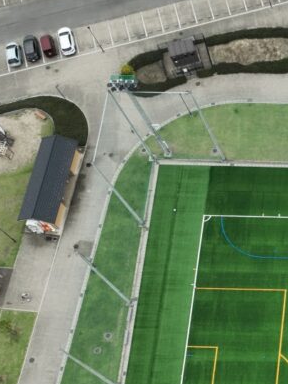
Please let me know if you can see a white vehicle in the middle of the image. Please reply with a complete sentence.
No, I can find no white vehicle in the middle of the image.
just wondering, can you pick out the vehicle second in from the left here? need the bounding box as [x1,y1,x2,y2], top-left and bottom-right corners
[23,36,42,64]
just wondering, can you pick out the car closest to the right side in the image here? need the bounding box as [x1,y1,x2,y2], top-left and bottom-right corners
[58,28,77,57]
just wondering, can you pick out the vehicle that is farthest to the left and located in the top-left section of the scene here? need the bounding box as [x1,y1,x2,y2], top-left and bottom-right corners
[5,43,23,69]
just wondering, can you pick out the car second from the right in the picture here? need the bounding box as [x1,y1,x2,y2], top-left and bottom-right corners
[40,36,57,59]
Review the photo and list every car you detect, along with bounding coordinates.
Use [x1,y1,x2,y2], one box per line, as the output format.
[58,28,77,57]
[23,36,42,64]
[5,43,23,69]
[40,36,57,59]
